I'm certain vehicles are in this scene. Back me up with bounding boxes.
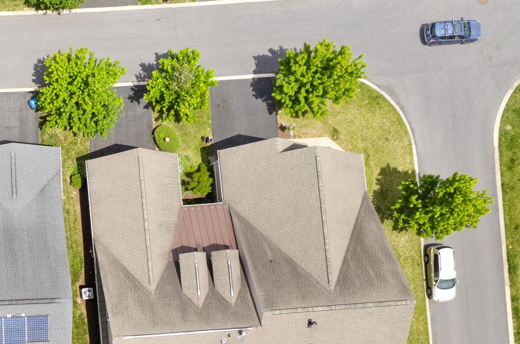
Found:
[426,245,458,301]
[419,17,477,47]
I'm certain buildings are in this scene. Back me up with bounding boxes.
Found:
[0,143,72,344]
[81,138,415,344]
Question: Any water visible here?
No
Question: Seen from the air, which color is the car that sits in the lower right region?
white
